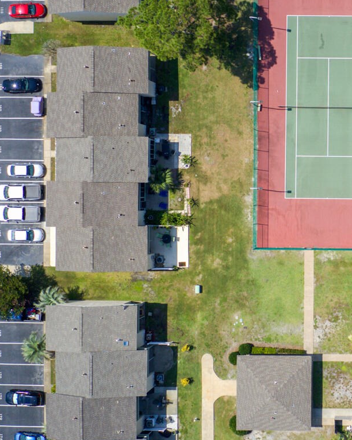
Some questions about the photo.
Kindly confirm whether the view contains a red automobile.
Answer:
Yes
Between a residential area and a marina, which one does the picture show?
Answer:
residential area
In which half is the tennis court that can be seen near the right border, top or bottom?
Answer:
top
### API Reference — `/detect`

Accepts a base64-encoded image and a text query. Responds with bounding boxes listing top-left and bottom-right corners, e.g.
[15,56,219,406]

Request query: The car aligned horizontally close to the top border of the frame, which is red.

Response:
[8,2,48,19]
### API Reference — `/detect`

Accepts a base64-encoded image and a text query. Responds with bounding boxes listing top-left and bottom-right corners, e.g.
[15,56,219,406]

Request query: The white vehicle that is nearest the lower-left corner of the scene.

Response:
[7,227,46,244]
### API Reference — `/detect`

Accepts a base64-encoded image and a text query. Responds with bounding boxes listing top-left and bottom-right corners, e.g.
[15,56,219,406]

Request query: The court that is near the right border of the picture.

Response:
[278,15,352,199]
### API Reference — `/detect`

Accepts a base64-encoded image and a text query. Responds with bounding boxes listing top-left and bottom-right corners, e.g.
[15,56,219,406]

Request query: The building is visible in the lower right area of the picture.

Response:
[236,351,313,431]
